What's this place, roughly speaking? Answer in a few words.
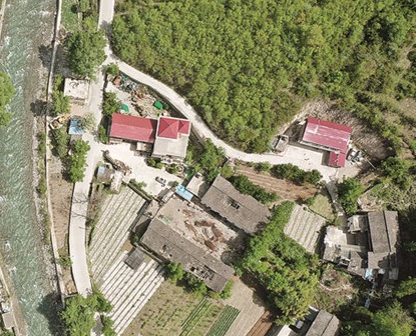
residential area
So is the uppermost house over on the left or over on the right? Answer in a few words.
left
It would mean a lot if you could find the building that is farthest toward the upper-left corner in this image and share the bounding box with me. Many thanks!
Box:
[64,78,90,102]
